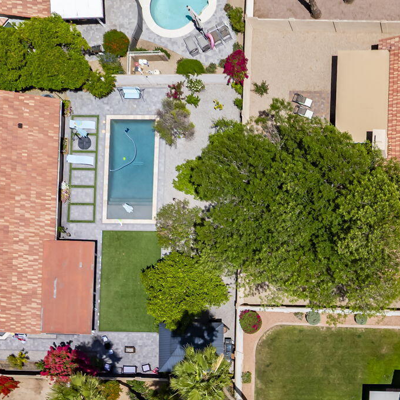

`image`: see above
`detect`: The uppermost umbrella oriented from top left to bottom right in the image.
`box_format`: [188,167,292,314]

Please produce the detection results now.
[187,7,213,41]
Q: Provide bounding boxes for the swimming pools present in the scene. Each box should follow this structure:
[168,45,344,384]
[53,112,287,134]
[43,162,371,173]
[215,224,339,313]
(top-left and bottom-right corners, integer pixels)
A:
[101,115,160,225]
[143,0,216,37]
